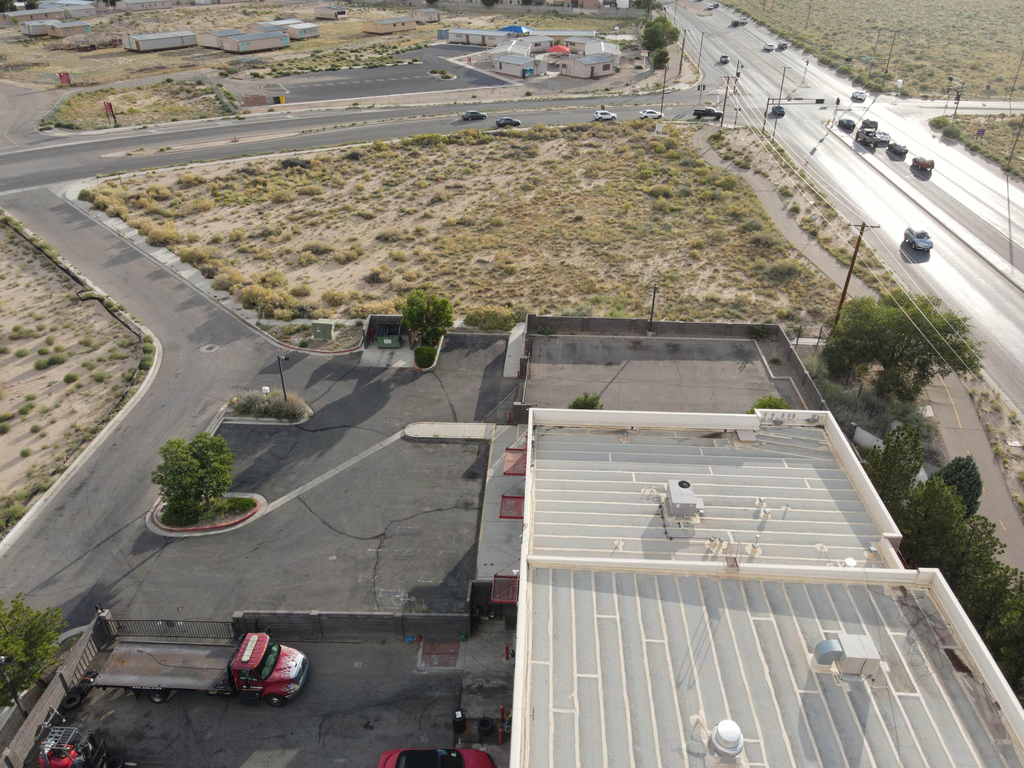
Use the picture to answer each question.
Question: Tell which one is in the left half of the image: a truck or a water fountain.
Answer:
truck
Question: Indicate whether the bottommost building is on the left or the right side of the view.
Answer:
right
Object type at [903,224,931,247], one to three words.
car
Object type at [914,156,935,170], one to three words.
car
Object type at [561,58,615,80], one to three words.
building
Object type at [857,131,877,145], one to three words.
vehicle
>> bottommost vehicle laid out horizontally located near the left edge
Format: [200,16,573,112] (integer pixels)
[34,726,125,768]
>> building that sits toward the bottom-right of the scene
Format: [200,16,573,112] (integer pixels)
[492,409,1024,768]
